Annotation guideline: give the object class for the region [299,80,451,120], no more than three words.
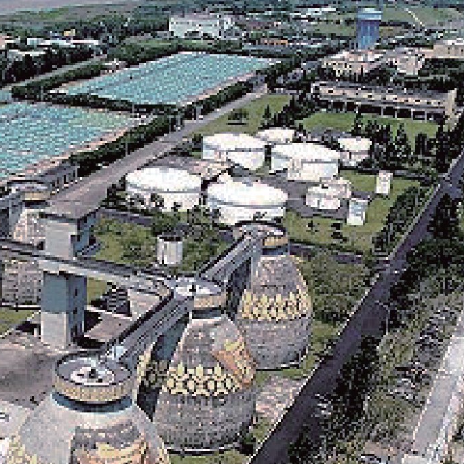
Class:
building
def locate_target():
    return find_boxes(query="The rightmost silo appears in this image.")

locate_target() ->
[373,167,395,195]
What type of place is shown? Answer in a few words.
industrial area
